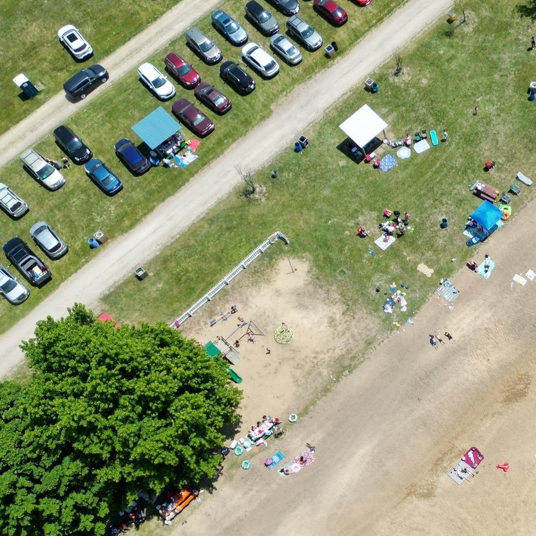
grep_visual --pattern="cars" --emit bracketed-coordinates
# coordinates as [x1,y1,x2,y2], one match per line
[59,26,94,62]
[244,0,280,36]
[85,160,125,197]
[0,184,31,220]
[172,102,215,139]
[137,62,175,101]
[243,46,281,79]
[19,148,64,189]
[114,139,153,177]
[285,15,322,51]
[59,65,113,100]
[270,35,304,67]
[49,123,93,166]
[211,10,246,46]
[267,0,299,17]
[3,238,54,285]
[219,62,257,97]
[30,223,69,257]
[0,266,29,304]
[313,0,349,29]
[184,25,223,65]
[196,84,234,116]
[162,49,201,87]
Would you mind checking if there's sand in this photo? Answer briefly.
Yes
